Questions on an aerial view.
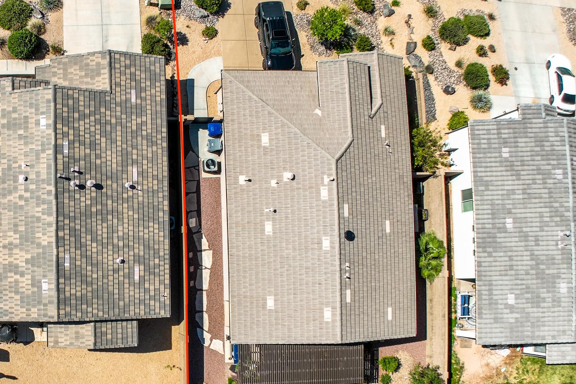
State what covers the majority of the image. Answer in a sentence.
The largest share of the image is taken up by buildings.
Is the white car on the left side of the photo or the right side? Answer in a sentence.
It is on the right.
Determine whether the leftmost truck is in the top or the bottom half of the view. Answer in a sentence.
It is in the top half that the leftmost truck appears.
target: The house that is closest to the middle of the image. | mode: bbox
[218,51,417,345]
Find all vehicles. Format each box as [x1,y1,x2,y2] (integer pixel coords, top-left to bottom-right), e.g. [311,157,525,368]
[540,52,576,119]
[252,0,297,70]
